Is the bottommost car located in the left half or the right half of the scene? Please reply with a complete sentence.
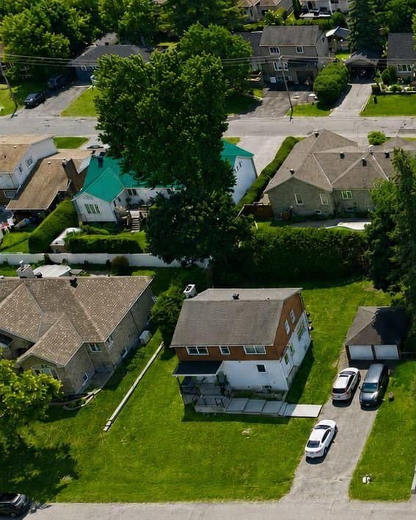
The bottommost car appears in the left half of the scene.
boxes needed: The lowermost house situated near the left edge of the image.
[0,264,148,390]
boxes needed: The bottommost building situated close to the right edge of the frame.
[340,296,416,364]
